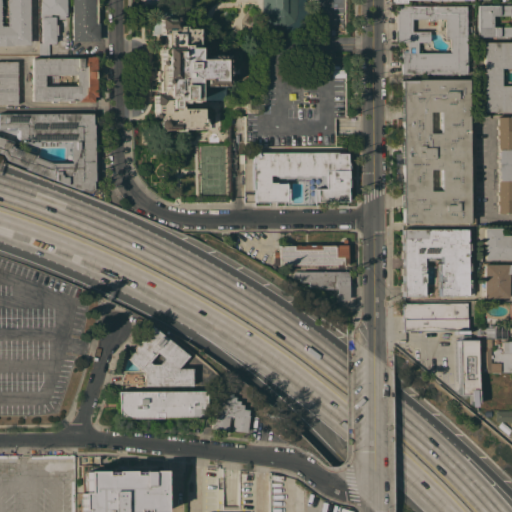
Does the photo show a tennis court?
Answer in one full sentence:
Yes, there's a tennis court down there.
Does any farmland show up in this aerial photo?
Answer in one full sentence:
No, there is no farmland in the image.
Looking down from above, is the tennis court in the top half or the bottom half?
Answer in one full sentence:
The tennis court sits in the top half of the picture.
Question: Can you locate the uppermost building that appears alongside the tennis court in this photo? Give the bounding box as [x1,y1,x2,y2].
[152,20,232,130]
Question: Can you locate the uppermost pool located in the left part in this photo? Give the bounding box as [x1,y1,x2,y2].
[38,147,67,163]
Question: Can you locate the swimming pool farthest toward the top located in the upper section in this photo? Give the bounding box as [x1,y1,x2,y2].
[432,34,448,52]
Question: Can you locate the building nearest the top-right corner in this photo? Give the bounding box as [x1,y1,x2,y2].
[478,6,512,39]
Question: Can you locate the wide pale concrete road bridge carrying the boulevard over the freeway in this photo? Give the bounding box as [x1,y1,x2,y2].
[334,328,395,512]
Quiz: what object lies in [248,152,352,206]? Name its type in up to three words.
building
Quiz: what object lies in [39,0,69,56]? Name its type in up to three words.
house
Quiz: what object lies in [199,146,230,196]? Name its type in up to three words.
tennis court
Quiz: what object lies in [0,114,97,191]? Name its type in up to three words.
building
